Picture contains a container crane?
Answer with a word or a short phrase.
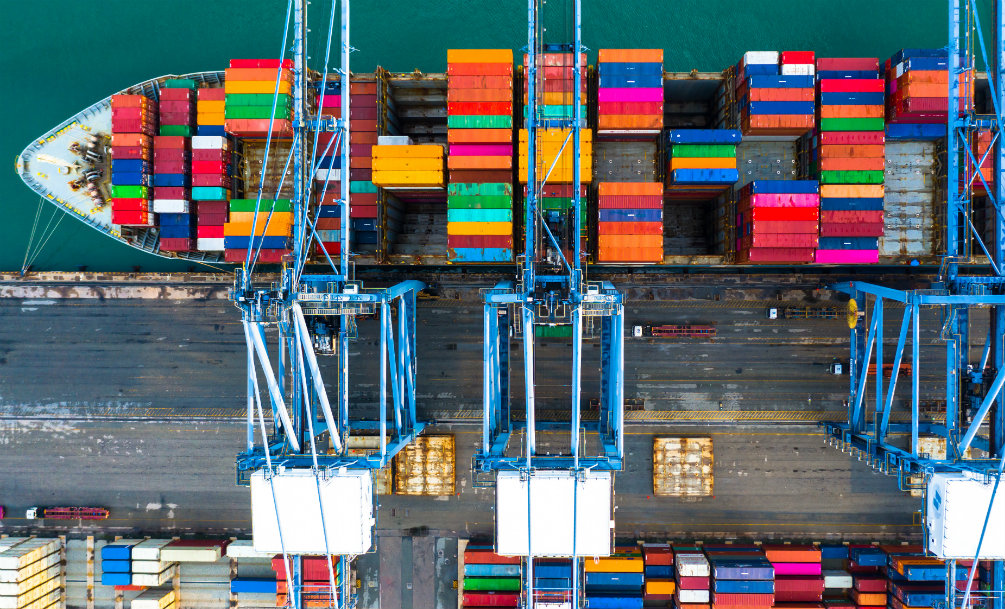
Yes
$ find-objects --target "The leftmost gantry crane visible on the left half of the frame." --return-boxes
[226,0,450,609]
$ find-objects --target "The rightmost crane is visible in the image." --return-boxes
[806,0,1005,609]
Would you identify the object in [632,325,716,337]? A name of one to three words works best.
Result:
vehicle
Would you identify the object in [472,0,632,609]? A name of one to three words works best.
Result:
container crane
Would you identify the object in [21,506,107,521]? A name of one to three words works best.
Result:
vehicle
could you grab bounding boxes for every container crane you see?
[226,0,450,609]
[806,0,1005,609]
[472,0,632,609]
